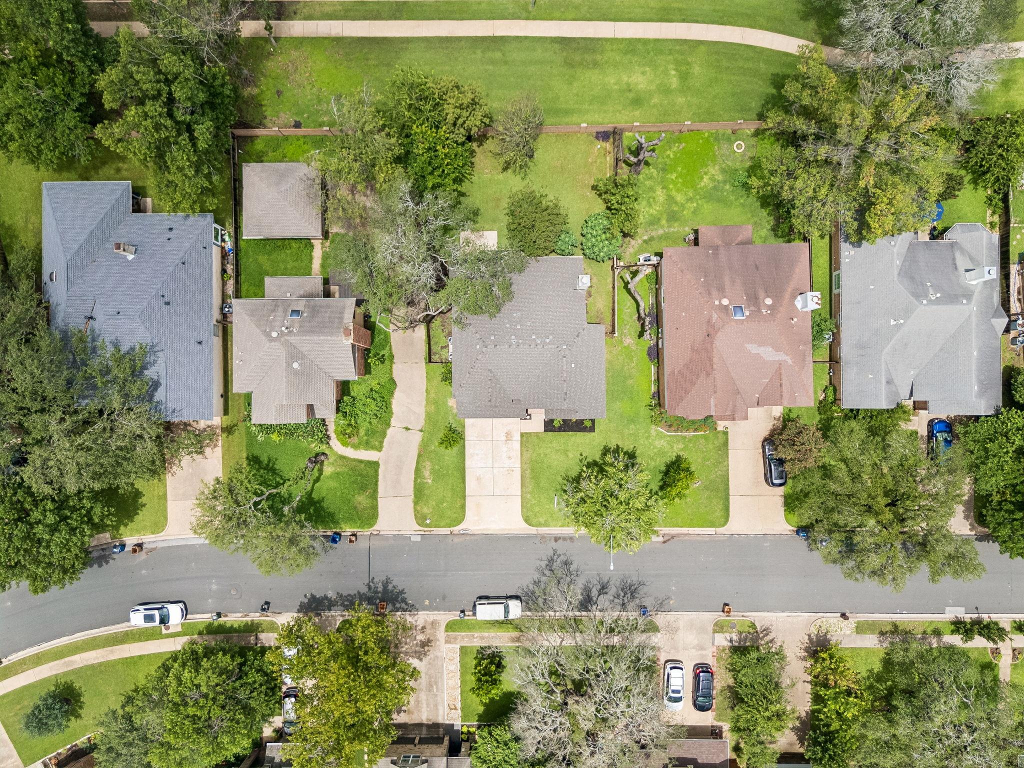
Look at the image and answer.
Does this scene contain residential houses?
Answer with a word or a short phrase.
Yes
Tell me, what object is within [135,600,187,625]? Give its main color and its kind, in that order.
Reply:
white car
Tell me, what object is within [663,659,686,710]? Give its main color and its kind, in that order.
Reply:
white car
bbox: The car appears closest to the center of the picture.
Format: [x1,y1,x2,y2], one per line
[472,595,520,619]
